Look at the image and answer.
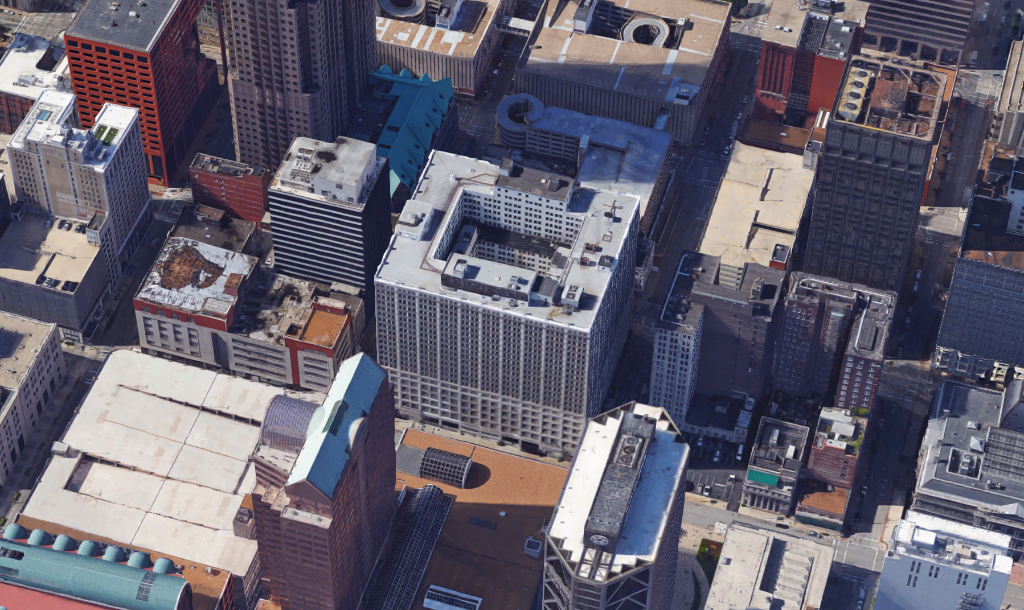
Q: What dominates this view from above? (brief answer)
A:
buildings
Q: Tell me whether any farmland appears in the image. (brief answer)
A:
No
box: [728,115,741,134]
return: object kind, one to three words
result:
vehicle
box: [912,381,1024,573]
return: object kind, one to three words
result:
building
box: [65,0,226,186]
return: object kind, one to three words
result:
building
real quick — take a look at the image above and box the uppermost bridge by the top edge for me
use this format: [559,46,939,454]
[493,15,533,43]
